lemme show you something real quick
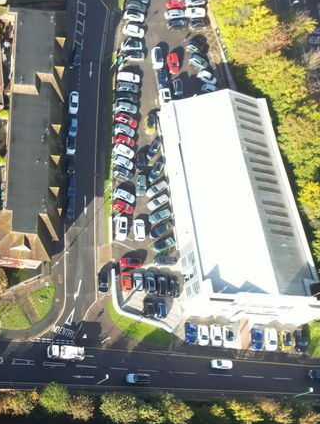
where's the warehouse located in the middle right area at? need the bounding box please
[159,89,320,326]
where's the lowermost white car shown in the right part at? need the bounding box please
[208,358,232,370]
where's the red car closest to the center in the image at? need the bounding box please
[110,199,134,216]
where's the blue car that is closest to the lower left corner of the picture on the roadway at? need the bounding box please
[124,372,151,384]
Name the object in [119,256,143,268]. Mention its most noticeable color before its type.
red vehicle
